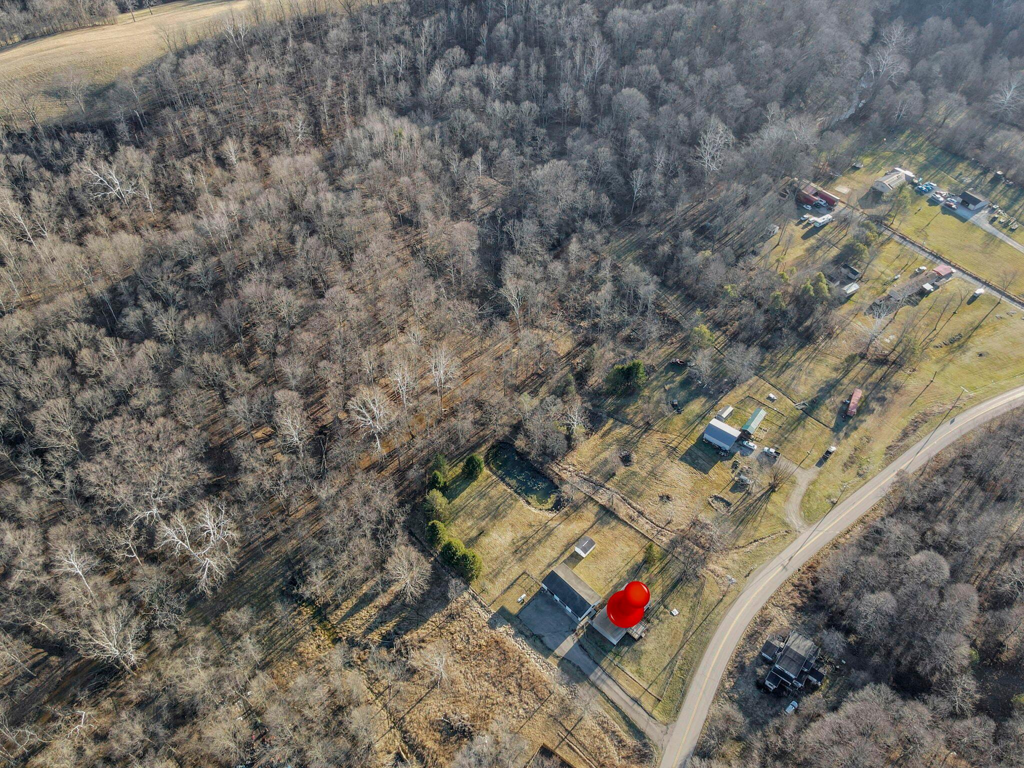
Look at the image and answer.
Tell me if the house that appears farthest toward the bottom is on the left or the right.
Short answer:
right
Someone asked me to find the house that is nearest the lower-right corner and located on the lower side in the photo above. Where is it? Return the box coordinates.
[759,631,825,690]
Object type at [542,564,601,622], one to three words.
building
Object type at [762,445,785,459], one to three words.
vehicle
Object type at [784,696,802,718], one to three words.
car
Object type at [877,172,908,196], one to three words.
house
